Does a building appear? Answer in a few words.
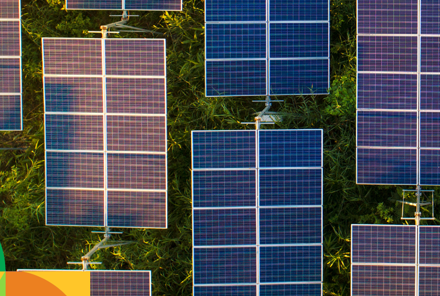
No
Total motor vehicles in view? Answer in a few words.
zero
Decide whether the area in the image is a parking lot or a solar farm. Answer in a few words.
solar farm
